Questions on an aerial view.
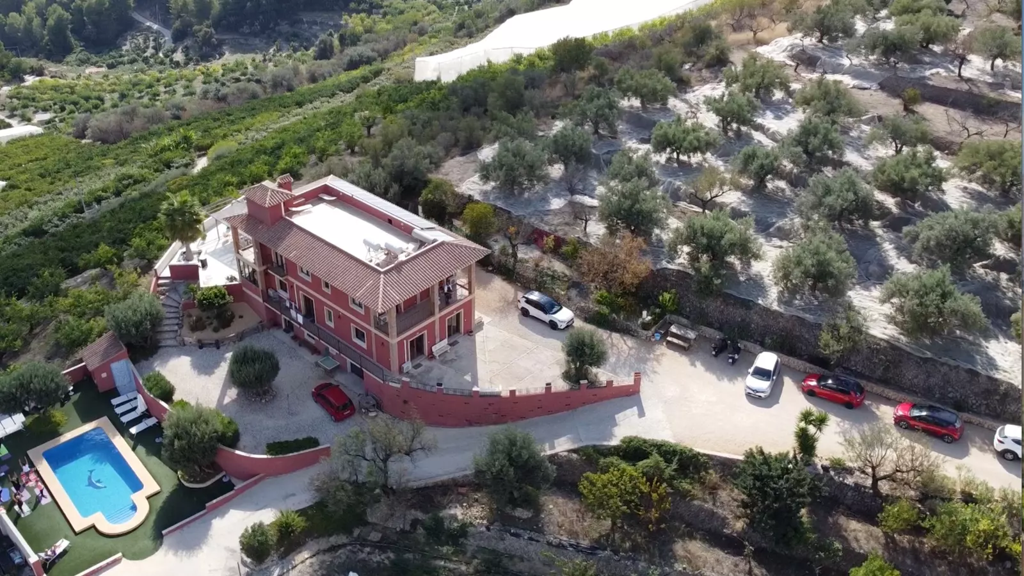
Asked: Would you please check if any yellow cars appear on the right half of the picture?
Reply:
No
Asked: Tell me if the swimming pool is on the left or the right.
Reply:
left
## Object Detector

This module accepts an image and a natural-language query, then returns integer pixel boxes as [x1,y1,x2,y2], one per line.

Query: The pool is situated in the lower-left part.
[27,421,159,536]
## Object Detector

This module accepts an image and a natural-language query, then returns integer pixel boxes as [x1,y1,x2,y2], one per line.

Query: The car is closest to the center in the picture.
[517,287,578,329]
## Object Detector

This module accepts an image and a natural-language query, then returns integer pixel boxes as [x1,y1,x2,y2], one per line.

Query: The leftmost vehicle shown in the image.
[311,382,357,422]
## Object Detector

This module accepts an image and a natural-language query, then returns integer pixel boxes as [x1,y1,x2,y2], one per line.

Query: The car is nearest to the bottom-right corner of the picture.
[997,420,1024,458]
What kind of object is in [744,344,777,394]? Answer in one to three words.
car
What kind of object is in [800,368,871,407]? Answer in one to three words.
car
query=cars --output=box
[800,368,871,407]
[997,420,1024,458]
[890,397,970,440]
[744,344,777,394]
[517,287,578,329]
[311,382,357,422]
